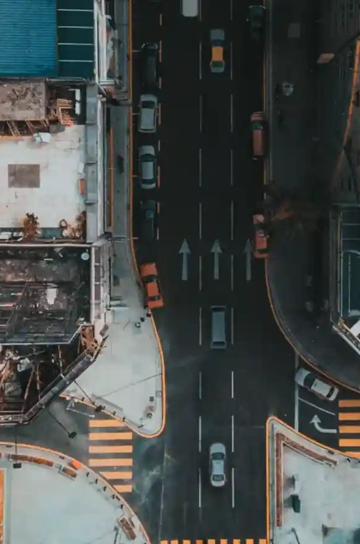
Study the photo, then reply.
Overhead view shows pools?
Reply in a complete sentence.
No, the scene contains no pool.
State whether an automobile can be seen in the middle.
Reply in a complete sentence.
Yes, you'll find an automobile in the middle.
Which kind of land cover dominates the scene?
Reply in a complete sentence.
What you mostly see from above here is paved ground.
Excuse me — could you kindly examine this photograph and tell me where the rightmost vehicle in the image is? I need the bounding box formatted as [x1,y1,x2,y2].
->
[295,369,339,402]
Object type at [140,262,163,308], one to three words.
car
